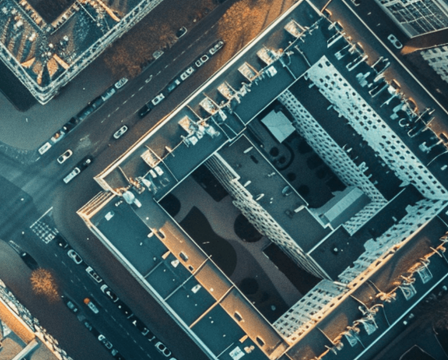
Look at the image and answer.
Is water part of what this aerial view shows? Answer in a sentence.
No, the picture contains no water.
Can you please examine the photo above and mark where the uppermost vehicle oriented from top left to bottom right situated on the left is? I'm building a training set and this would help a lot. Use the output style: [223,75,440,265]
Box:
[55,234,70,250]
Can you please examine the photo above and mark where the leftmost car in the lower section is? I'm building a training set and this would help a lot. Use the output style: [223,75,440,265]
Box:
[22,253,37,270]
